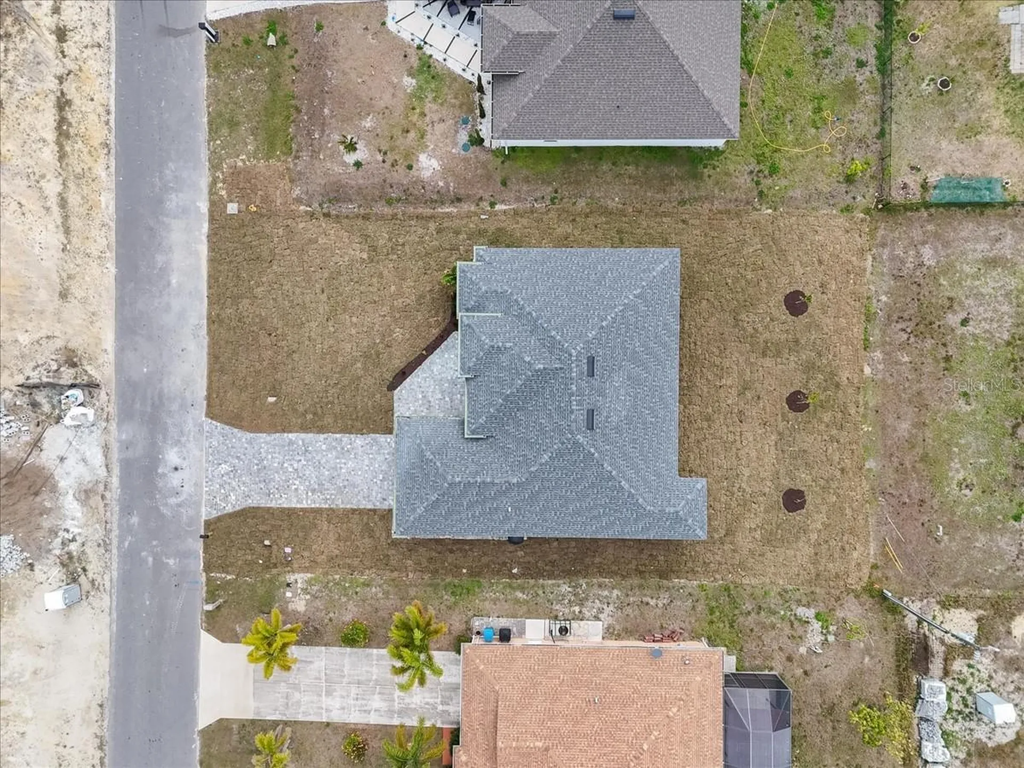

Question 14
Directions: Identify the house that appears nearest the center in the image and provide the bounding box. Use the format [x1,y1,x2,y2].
[392,245,708,540]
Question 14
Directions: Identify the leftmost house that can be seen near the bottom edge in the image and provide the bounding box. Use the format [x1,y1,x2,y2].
[451,634,727,768]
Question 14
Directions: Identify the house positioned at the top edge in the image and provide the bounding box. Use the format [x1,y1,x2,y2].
[479,0,741,155]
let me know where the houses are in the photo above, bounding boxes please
[392,245,708,540]
[479,0,741,155]
[451,634,727,768]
